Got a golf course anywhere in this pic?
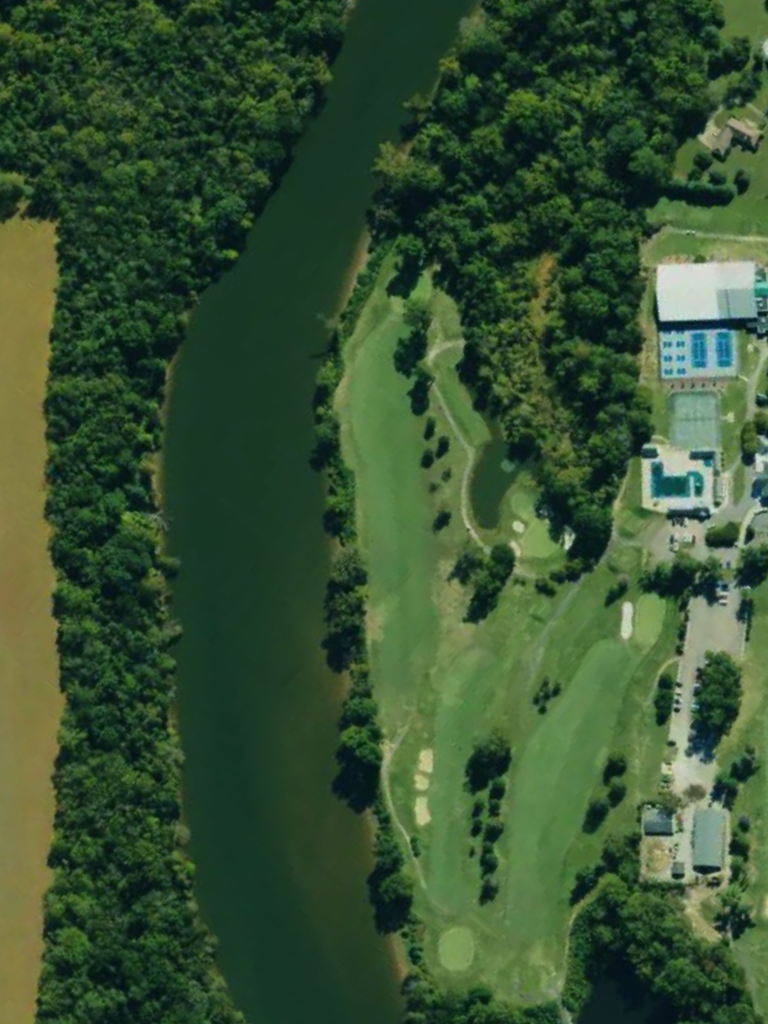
Yes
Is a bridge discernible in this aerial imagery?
No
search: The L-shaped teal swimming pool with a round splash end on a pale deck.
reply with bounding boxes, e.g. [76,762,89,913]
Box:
[642,446,715,516]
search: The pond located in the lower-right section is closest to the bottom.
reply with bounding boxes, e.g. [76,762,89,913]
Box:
[572,958,671,1024]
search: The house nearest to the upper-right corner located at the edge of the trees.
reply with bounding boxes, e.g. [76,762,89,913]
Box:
[712,119,763,155]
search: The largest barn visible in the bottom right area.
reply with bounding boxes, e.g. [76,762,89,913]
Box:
[694,810,727,866]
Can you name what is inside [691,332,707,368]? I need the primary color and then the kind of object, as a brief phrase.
blue tennis court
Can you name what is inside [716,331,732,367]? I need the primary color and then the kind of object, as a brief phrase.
blue tennis court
